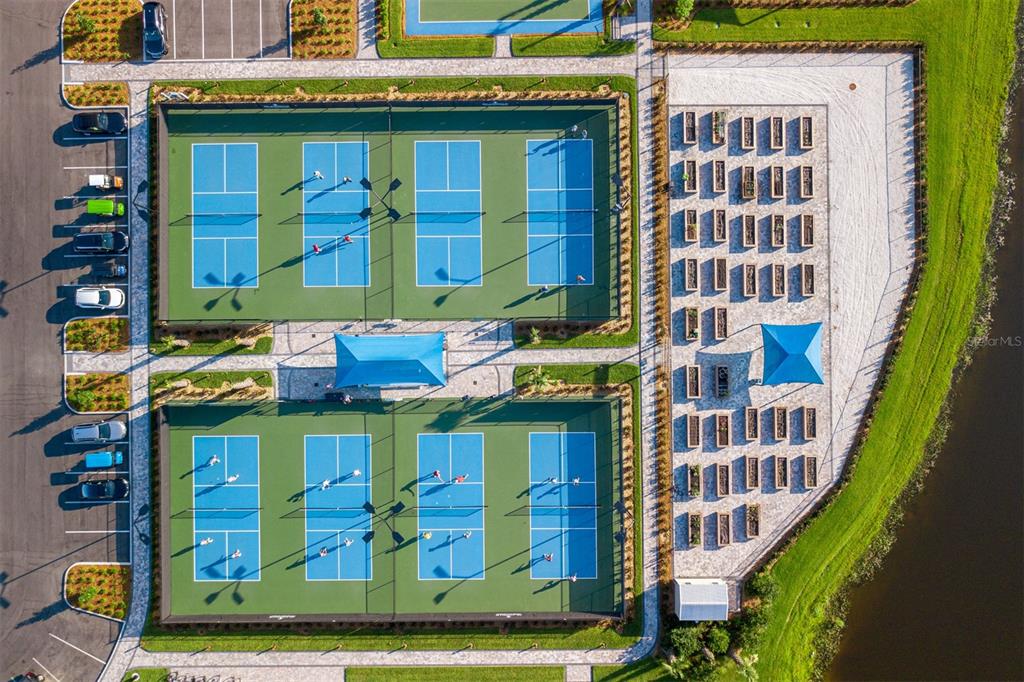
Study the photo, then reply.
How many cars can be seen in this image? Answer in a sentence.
There are 6 cars in the image.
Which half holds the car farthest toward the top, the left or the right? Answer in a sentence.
You can find the car farthest toward the top on the left side of the picture.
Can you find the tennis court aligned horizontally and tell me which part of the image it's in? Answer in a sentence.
The tennis court aligned horizontally is in the top part of the image.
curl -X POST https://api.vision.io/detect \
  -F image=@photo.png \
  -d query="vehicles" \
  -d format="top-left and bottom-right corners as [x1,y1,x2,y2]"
[85,175,124,191]
[73,419,129,444]
[86,451,124,468]
[73,229,131,255]
[81,477,131,502]
[87,263,125,278]
[74,110,128,136]
[86,200,124,217]
[140,3,169,58]
[73,286,126,310]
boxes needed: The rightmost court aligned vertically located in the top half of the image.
[527,139,594,285]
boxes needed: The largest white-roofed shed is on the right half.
[676,577,731,620]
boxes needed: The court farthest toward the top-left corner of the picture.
[192,143,259,288]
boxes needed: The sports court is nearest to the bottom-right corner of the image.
[529,432,597,578]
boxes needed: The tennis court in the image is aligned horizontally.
[406,0,603,35]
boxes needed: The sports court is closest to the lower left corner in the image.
[194,436,260,581]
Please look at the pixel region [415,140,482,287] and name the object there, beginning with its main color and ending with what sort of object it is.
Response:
blue sports court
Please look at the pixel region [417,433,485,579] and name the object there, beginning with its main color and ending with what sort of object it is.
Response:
blue sports court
